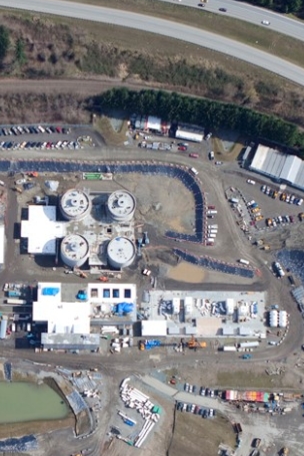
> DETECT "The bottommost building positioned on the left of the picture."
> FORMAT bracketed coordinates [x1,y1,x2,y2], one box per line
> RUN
[33,283,136,346]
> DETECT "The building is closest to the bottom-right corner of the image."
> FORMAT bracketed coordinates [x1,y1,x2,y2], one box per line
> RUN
[141,292,266,338]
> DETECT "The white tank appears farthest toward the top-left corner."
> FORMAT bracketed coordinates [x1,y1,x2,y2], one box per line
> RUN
[61,189,89,222]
